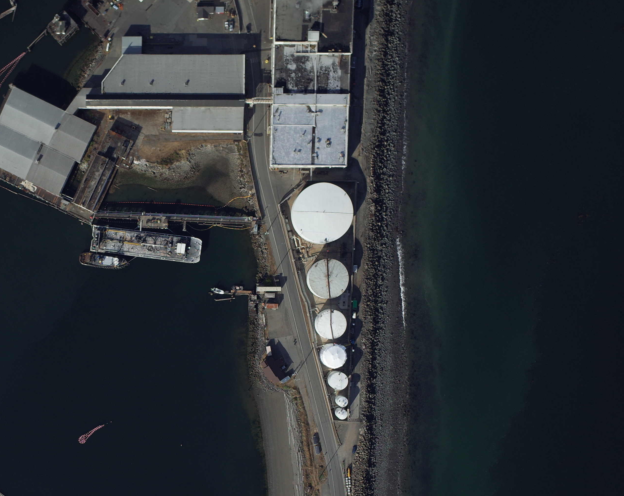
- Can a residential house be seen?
Yes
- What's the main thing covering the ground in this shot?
water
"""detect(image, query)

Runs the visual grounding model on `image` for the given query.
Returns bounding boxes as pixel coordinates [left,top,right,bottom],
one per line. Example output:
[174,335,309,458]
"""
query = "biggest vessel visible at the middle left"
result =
[91,225,202,264]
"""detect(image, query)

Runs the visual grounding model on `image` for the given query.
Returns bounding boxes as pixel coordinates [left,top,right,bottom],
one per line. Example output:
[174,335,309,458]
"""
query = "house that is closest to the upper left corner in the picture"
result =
[47,11,79,46]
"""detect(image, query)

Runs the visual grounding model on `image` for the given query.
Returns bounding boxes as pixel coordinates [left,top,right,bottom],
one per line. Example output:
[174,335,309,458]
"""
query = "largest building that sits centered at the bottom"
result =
[261,356,289,384]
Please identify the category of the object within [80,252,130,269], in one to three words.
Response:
boat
